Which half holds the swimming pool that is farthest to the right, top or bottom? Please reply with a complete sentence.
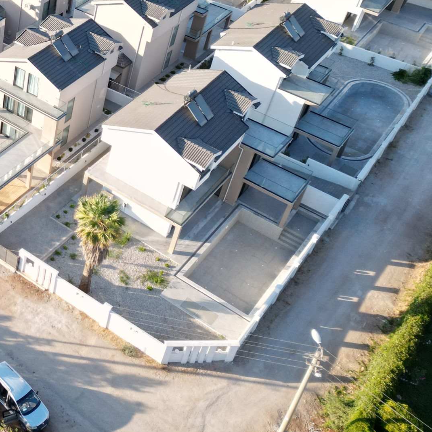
The swimming pool that is farthest to the right sits in the top half of the picture.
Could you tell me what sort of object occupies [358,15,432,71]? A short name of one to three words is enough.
swimming pool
